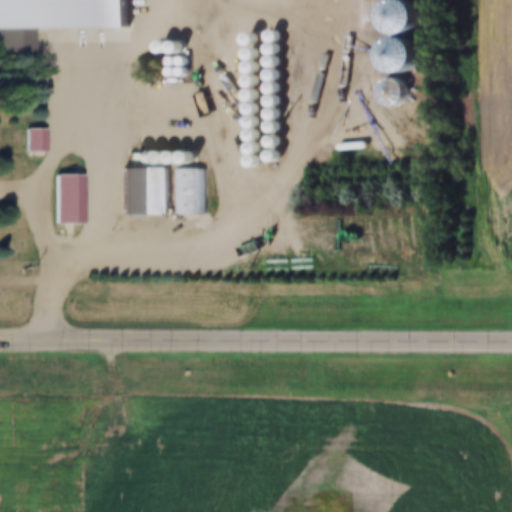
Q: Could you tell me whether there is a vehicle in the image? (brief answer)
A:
Yes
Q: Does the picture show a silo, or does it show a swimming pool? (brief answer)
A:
silo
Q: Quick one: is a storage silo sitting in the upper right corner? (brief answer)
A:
Yes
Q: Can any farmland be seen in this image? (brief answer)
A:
Yes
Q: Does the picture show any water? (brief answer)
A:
No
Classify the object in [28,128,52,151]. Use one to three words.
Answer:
building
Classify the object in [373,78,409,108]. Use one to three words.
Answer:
silo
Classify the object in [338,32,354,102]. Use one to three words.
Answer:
vehicle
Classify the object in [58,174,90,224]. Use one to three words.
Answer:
house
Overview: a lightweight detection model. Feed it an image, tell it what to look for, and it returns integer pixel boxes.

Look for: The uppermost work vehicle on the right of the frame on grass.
[332,220,360,251]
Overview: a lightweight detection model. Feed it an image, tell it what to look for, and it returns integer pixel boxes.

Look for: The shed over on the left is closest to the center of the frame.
[175,168,207,214]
